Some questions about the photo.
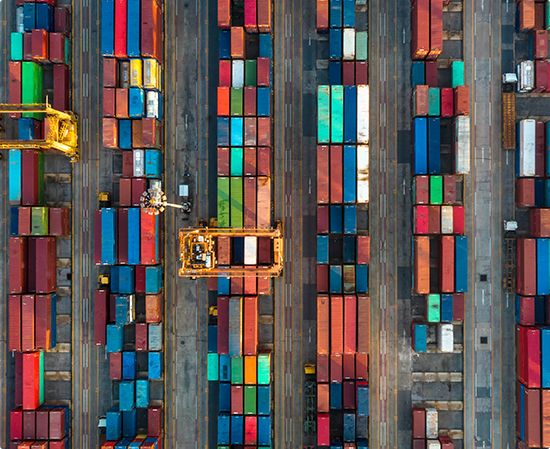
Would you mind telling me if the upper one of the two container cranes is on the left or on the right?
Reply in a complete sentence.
You can find the upper one of the two container cranes on the left side of the picture.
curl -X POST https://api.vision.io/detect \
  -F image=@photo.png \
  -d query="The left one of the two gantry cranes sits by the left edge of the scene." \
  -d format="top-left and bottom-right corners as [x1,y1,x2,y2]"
[0,91,78,166]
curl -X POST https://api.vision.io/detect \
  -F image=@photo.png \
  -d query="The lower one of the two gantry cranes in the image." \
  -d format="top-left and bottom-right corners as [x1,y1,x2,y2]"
[178,220,284,279]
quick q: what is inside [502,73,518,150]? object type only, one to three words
vehicle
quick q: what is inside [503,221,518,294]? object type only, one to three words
vehicle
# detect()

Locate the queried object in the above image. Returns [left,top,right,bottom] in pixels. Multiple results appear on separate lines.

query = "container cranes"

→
[178,220,284,279]
[0,91,78,166]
